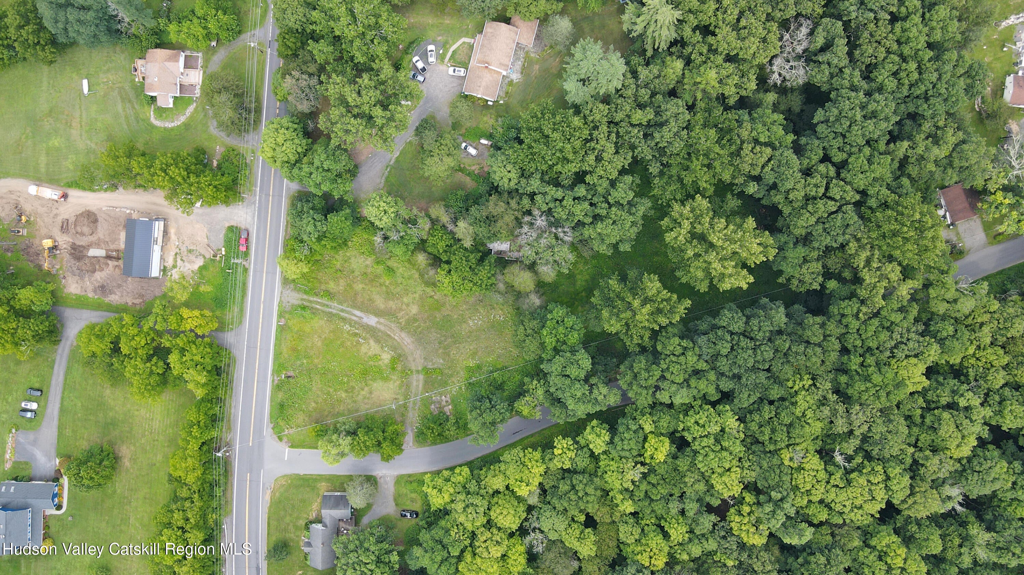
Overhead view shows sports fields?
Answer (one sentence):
No, there's no sports field here.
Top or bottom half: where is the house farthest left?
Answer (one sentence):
The house farthest left is in the bottom half of the image.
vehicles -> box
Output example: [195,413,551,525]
[400,510,418,519]
[427,44,436,64]
[26,184,67,201]
[238,229,248,251]
[39,239,61,274]
[448,66,467,75]
[412,53,428,75]
[19,401,39,410]
[9,228,26,236]
[24,388,43,397]
[415,71,427,83]
[16,409,37,420]
[460,141,479,157]
[12,206,28,224]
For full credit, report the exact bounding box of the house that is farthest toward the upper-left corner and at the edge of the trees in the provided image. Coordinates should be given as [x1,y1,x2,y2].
[145,47,185,107]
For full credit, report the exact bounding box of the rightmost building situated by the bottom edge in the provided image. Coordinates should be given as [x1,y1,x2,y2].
[303,494,351,572]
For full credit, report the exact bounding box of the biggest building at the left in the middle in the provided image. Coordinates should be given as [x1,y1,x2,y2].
[124,218,166,276]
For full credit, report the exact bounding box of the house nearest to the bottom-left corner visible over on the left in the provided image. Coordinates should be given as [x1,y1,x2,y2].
[0,482,59,557]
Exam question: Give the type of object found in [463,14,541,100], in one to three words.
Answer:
house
